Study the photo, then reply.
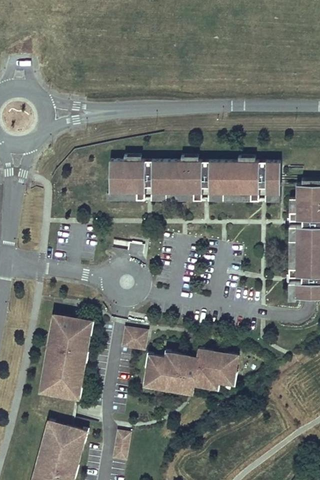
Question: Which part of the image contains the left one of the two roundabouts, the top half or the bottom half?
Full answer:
It is in the top half that the left one of the two roundabouts appears.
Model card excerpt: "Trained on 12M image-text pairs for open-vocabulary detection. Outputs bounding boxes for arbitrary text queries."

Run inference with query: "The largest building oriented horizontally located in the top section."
[108,154,281,202]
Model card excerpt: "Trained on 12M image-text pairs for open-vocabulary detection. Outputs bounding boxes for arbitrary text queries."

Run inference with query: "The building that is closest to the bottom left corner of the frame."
[33,421,91,480]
